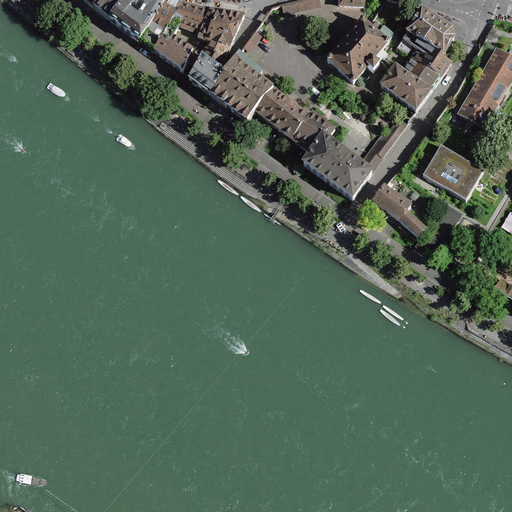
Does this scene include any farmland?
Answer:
No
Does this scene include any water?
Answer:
Yes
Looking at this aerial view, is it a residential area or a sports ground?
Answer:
residential area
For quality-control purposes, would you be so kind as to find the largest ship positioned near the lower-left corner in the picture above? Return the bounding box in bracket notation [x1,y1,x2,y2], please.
[14,472,48,486]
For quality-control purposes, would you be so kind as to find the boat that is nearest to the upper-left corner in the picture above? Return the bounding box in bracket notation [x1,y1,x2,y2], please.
[46,84,66,97]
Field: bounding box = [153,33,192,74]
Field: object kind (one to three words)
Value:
house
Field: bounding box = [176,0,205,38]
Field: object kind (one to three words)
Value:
house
